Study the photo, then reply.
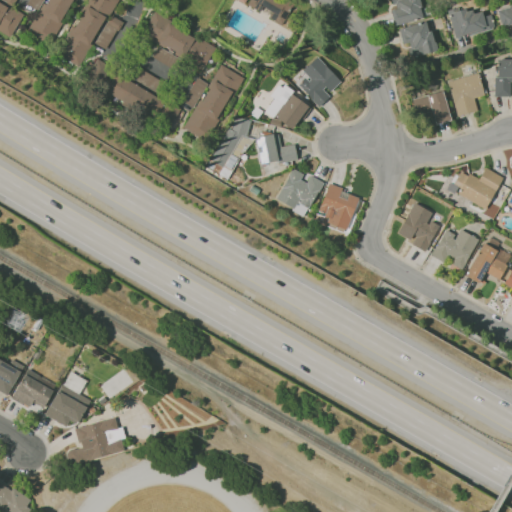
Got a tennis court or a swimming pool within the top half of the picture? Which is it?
swimming pool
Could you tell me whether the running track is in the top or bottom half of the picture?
bottom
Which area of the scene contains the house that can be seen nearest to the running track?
bottom left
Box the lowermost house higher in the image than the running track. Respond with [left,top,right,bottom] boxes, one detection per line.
[69,418,126,462]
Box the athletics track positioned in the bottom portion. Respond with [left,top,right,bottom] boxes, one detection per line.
[78,461,261,512]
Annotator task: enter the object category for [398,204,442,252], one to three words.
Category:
house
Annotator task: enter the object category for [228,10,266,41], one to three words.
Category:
swimming pool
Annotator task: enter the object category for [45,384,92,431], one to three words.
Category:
house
